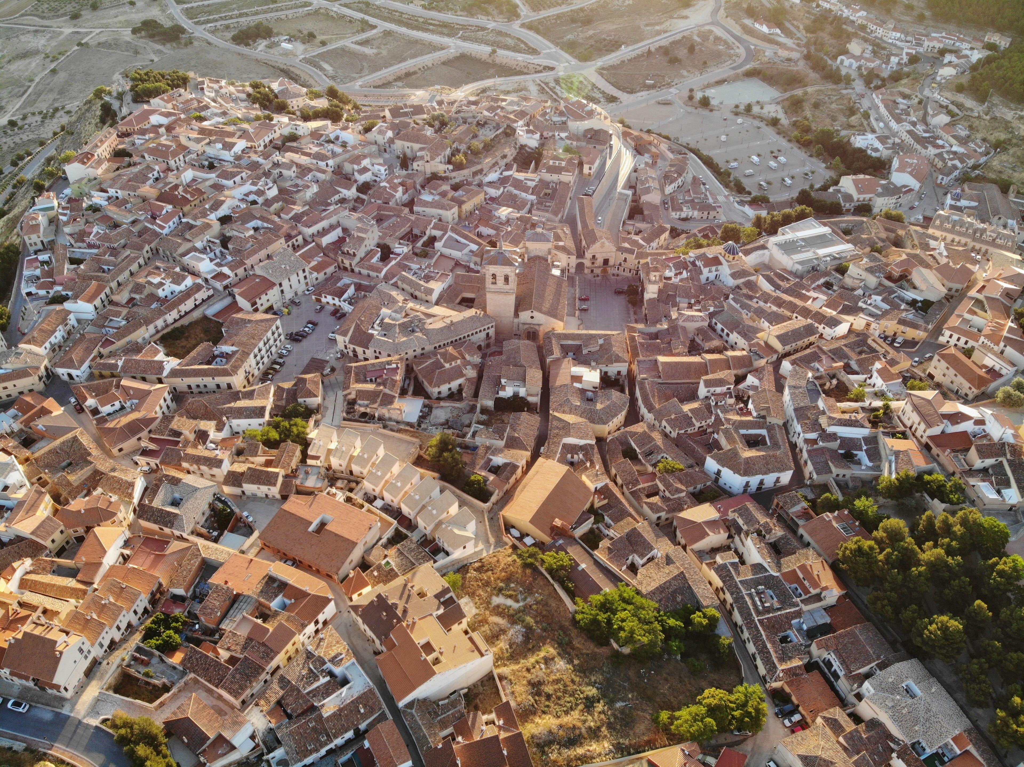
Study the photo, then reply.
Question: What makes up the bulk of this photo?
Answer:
buildings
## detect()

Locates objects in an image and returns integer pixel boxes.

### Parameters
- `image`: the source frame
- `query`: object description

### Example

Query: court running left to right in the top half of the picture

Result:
[697,77,780,106]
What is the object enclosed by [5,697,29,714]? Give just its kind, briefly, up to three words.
car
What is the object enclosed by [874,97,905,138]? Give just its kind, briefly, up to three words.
house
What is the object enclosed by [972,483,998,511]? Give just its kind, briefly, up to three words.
house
